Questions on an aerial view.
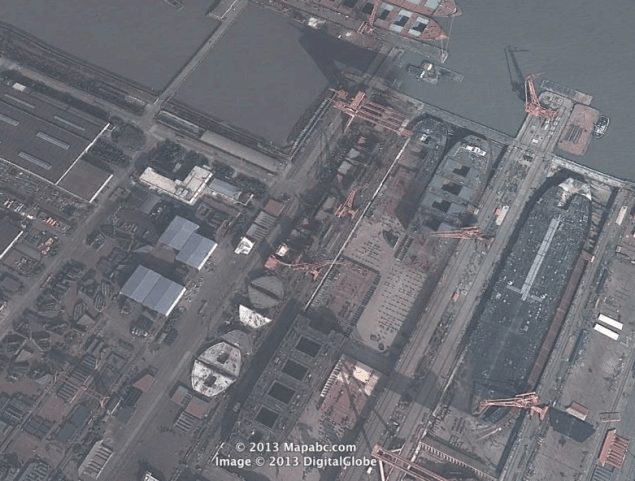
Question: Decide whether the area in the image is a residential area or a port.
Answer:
port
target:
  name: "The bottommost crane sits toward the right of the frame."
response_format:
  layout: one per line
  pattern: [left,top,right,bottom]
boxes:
[368,441,456,481]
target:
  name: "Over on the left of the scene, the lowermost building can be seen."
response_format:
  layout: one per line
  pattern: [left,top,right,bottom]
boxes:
[119,263,191,319]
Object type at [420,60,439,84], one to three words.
vessel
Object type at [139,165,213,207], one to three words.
building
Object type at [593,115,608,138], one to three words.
boat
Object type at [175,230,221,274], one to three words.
building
